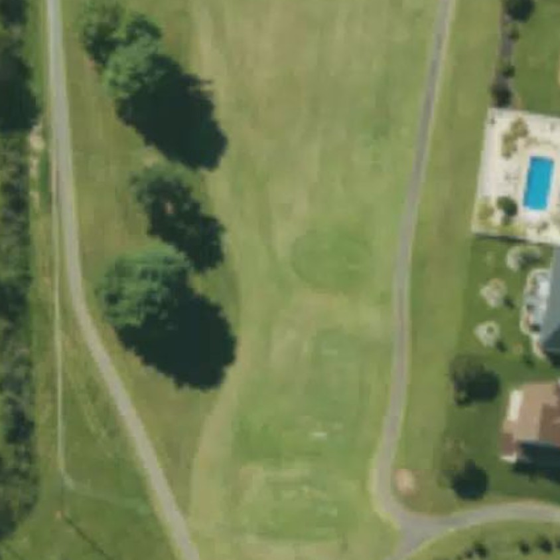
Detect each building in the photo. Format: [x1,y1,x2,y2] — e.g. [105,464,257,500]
[514,381,560,451]
[543,248,560,356]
